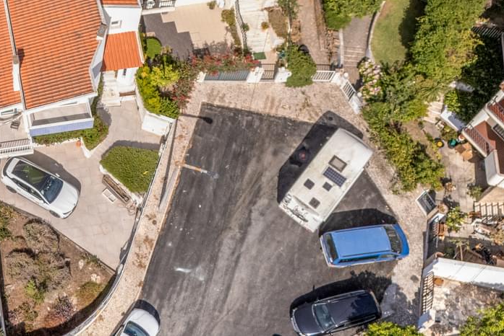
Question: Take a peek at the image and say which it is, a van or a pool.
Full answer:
Visible in the photo is a van.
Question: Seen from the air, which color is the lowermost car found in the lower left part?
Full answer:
The lowermost car found in the lower left part looks white in the image.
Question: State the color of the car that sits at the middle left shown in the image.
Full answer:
The car that sits at the middle left looks white in the image.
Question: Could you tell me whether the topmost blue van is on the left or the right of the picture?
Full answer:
The topmost blue van is on the right side of the image.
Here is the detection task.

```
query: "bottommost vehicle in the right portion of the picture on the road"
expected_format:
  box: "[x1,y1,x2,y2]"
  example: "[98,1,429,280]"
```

[286,285,388,336]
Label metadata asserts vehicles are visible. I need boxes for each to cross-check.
[314,219,412,274]
[286,285,388,336]
[0,153,79,219]
[272,129,374,235]
[106,302,162,336]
